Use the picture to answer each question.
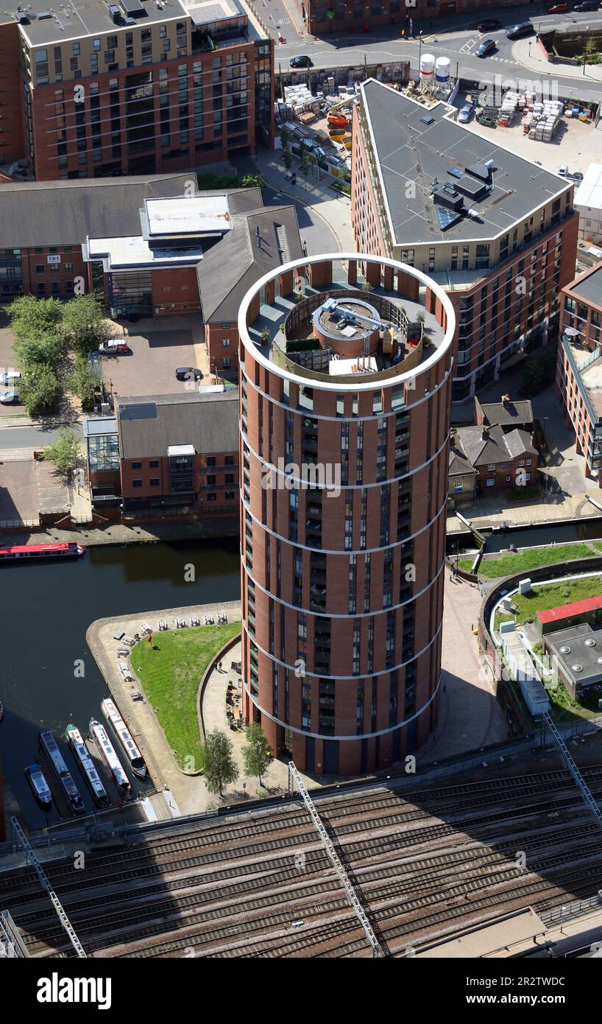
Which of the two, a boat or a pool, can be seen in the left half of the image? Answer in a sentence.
The one visible in the left half of the image is a boat.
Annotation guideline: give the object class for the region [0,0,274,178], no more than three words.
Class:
building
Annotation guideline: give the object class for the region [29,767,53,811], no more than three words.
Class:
boat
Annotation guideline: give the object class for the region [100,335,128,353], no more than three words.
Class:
vehicle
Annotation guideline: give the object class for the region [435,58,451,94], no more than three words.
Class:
silo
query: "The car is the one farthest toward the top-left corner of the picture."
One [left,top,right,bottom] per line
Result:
[288,57,313,69]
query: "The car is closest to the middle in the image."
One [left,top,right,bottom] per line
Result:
[176,368,203,381]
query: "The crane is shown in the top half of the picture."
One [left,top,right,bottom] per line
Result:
[318,299,408,334]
